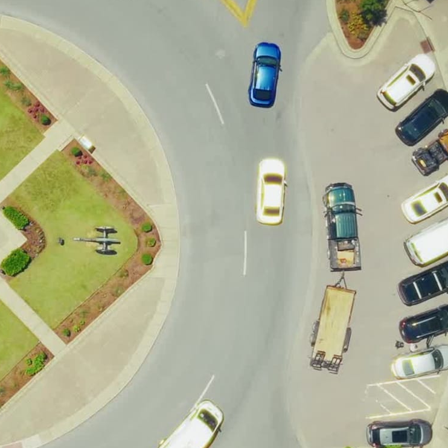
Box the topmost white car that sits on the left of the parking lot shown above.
[255,159,289,223]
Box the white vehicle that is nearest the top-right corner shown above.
[373,54,437,110]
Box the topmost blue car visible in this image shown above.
[248,42,282,107]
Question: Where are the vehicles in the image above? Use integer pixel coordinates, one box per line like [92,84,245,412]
[397,305,448,347]
[163,394,228,448]
[255,159,289,223]
[390,342,448,379]
[400,220,448,266]
[399,175,448,225]
[391,88,448,145]
[373,54,437,110]
[365,418,431,448]
[406,130,448,178]
[248,42,282,107]
[396,261,448,305]
[324,183,365,272]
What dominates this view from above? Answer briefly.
paved ground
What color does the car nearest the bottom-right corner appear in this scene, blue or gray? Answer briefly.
gray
